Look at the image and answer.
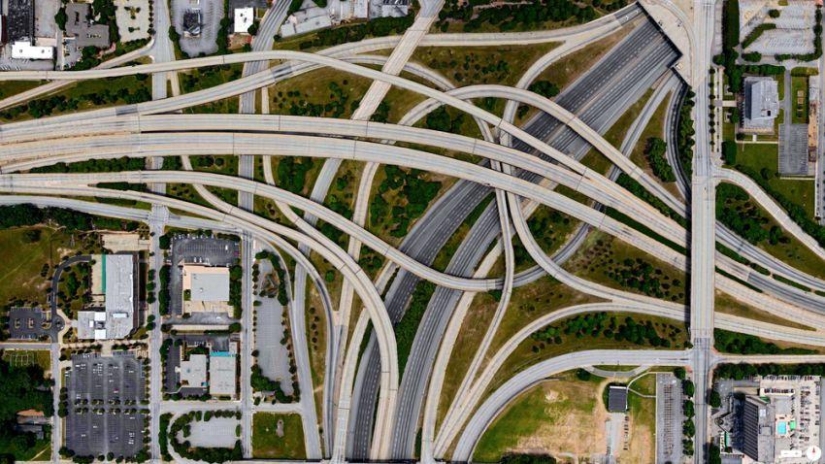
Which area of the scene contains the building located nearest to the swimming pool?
bottom right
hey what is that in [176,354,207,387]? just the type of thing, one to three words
building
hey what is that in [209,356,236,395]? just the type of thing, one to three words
building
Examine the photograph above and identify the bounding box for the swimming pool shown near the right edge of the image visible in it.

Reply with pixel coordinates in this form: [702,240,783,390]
[777,415,796,438]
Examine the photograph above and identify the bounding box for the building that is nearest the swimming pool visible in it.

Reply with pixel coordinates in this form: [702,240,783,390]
[744,397,777,464]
